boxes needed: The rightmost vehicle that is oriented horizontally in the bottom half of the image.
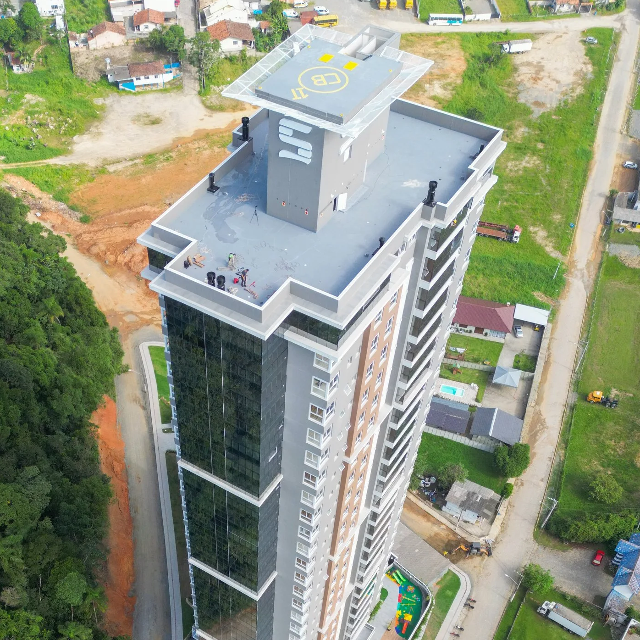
[585,390,623,409]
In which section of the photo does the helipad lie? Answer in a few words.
top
